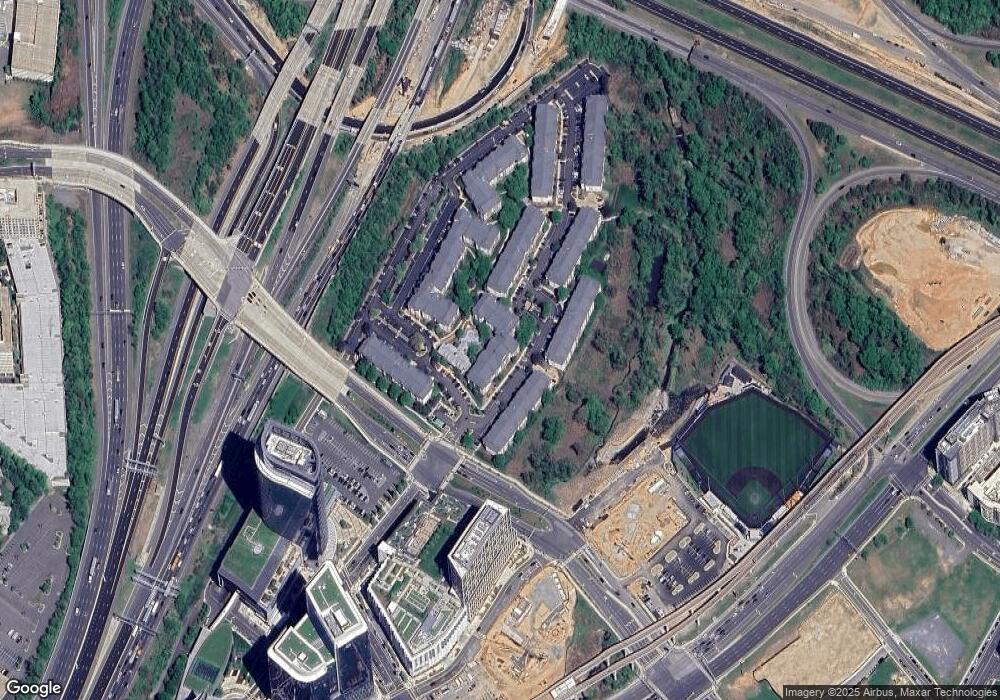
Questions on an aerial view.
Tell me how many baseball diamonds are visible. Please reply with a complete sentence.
In total, 1 baseball diamond can be seen.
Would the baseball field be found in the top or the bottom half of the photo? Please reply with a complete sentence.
Seen from above, the baseball field lies in the bottom half of the view.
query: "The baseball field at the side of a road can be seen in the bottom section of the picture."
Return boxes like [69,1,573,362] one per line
[677,386,835,530]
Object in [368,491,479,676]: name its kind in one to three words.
building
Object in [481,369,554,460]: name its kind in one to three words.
building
